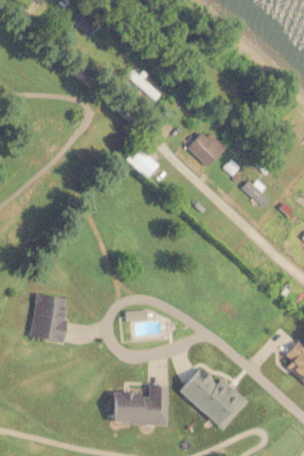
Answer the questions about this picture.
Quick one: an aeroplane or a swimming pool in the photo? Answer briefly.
swimming pool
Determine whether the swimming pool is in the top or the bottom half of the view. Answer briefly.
bottom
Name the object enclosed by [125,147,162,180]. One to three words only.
house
